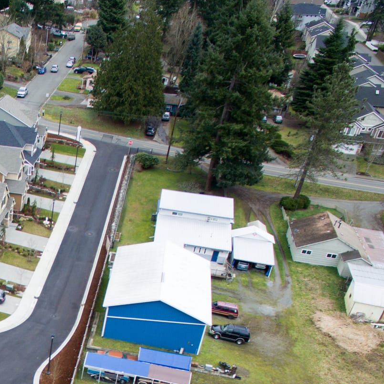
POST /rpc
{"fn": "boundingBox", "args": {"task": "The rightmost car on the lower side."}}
[250,262,266,275]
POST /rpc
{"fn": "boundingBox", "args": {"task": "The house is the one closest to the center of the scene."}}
[153,184,234,265]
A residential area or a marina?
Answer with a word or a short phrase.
residential area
